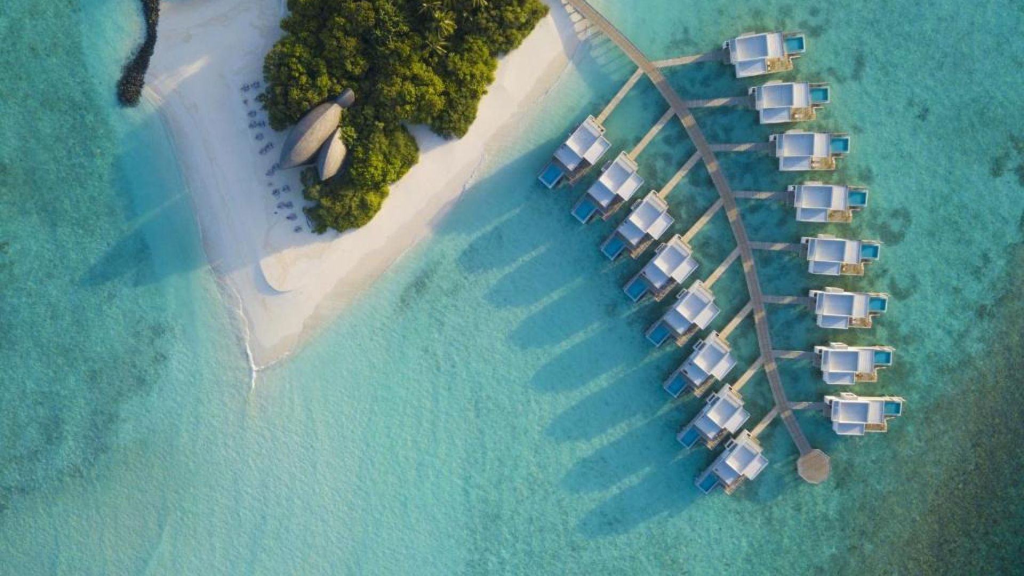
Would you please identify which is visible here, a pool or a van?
pool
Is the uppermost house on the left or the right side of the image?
right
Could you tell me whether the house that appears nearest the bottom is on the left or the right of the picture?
right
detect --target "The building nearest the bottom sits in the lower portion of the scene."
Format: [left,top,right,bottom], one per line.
[691,425,770,496]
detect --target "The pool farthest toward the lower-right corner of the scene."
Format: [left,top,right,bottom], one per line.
[879,399,903,416]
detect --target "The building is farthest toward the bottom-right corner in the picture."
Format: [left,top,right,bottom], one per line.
[819,390,904,435]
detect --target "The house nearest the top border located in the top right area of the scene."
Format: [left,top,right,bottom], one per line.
[719,31,802,77]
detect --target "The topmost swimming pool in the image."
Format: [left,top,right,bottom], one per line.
[782,35,803,53]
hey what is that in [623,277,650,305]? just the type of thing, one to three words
swimming pool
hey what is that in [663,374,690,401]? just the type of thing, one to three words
swimming pool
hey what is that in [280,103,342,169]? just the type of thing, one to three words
building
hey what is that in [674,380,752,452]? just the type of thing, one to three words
house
